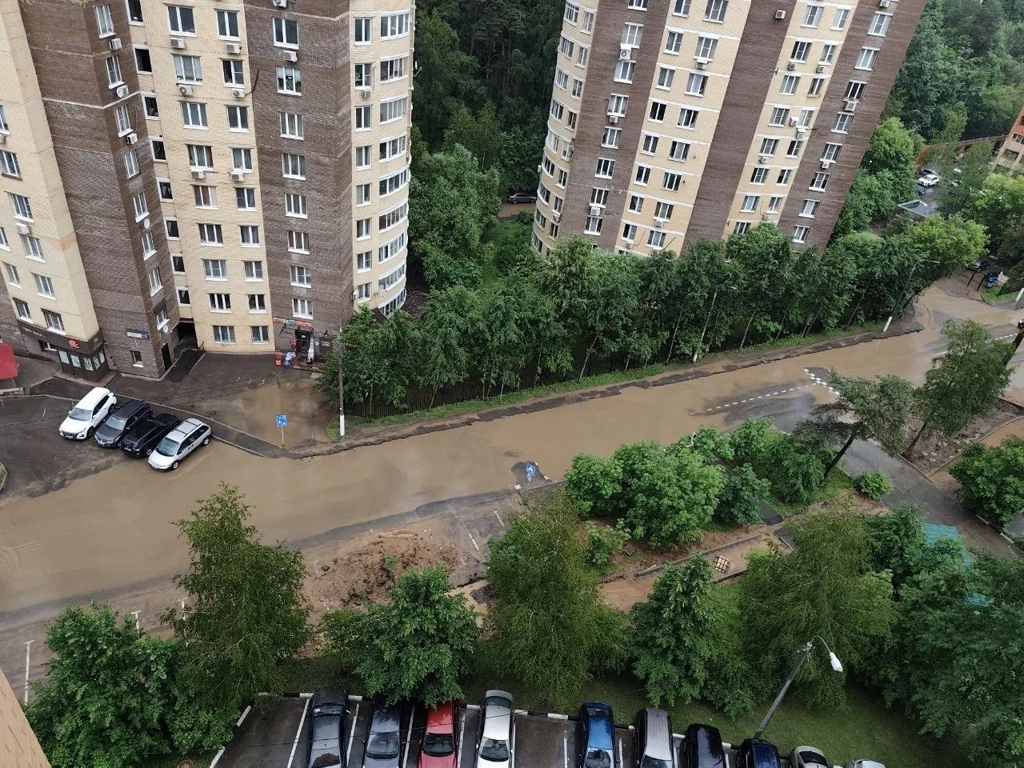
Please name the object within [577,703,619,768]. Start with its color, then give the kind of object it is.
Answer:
blue car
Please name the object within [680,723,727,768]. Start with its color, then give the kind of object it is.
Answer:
black car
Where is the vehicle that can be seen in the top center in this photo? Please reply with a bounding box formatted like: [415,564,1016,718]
[505,190,535,206]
